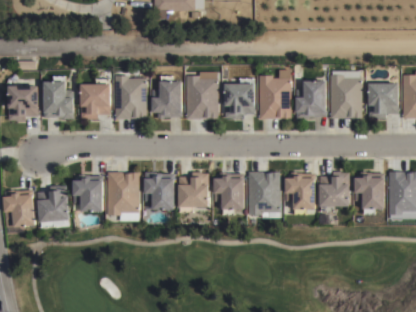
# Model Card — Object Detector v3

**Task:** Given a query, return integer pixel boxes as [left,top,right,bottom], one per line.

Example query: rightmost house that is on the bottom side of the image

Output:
[389,171,416,220]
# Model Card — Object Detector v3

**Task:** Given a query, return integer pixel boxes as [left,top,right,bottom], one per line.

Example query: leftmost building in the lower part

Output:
[2,190,35,228]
